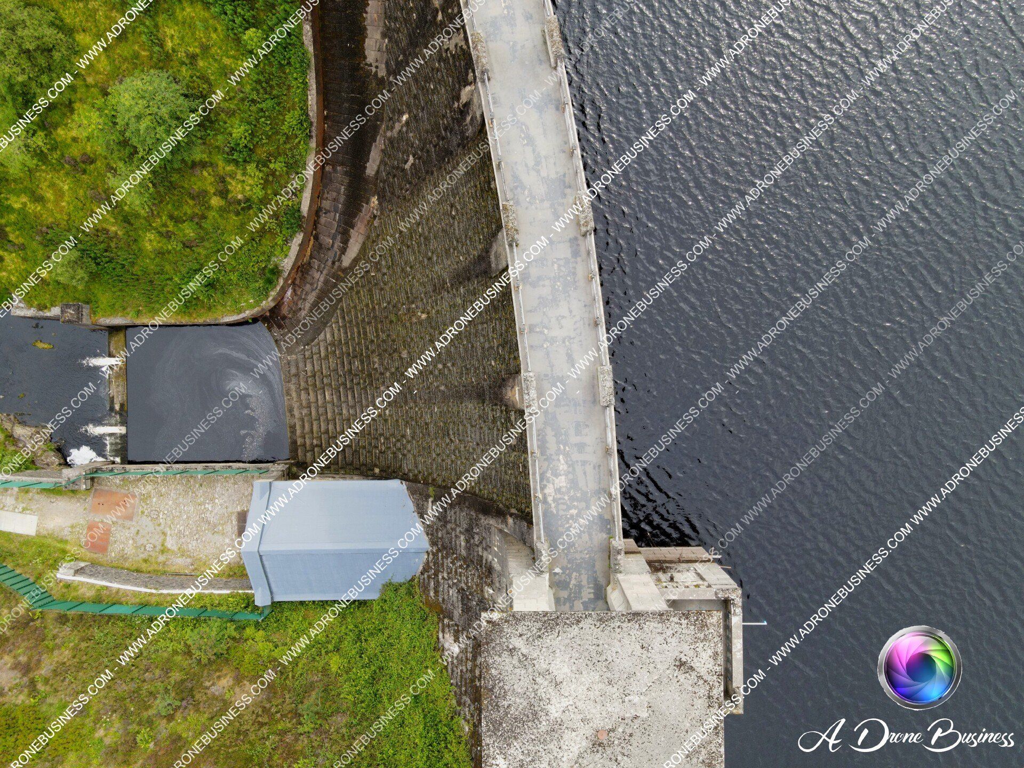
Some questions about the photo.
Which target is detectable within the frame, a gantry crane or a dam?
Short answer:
dam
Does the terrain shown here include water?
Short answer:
Yes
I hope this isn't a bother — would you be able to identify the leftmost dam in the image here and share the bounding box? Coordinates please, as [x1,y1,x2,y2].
[110,325,130,461]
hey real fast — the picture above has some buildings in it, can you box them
[239,474,429,606]
[482,537,744,768]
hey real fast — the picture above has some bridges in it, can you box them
[460,0,648,610]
